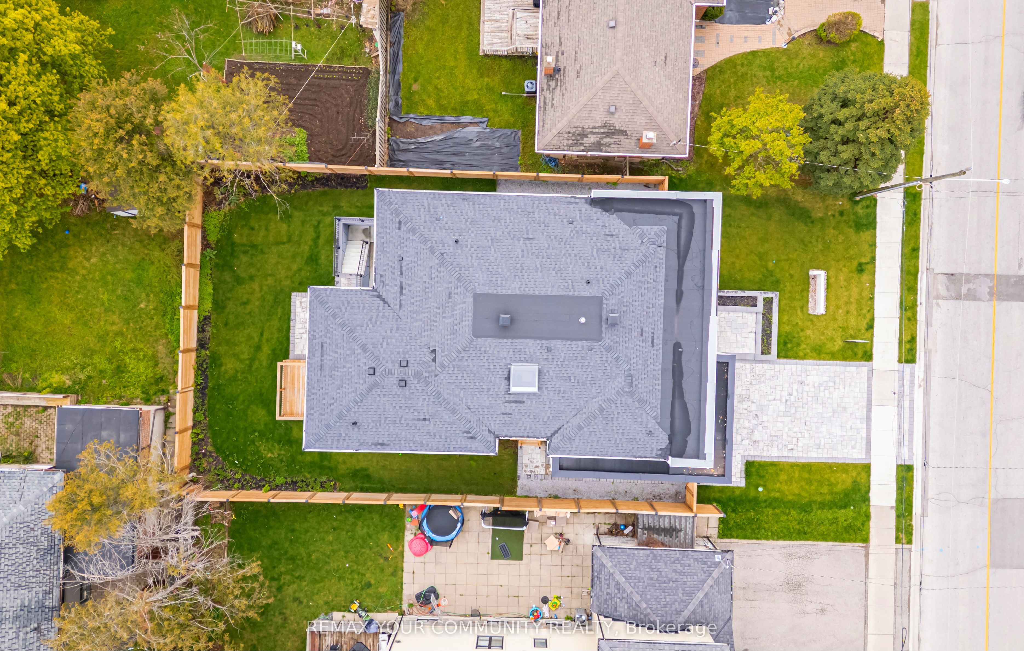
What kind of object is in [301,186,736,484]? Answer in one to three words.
house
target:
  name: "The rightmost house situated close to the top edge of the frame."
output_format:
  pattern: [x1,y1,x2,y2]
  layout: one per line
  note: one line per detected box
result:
[534,0,729,161]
